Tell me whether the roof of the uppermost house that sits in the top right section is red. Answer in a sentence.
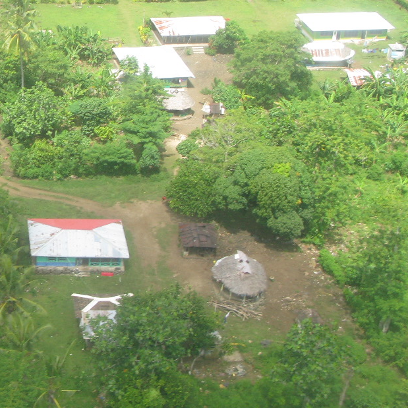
No, the color of the roof of the uppermost house that sits in the top right section is white.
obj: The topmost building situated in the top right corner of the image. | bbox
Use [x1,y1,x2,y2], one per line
[300,11,395,44]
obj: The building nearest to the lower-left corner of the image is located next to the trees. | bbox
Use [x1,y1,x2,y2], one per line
[75,293,140,346]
